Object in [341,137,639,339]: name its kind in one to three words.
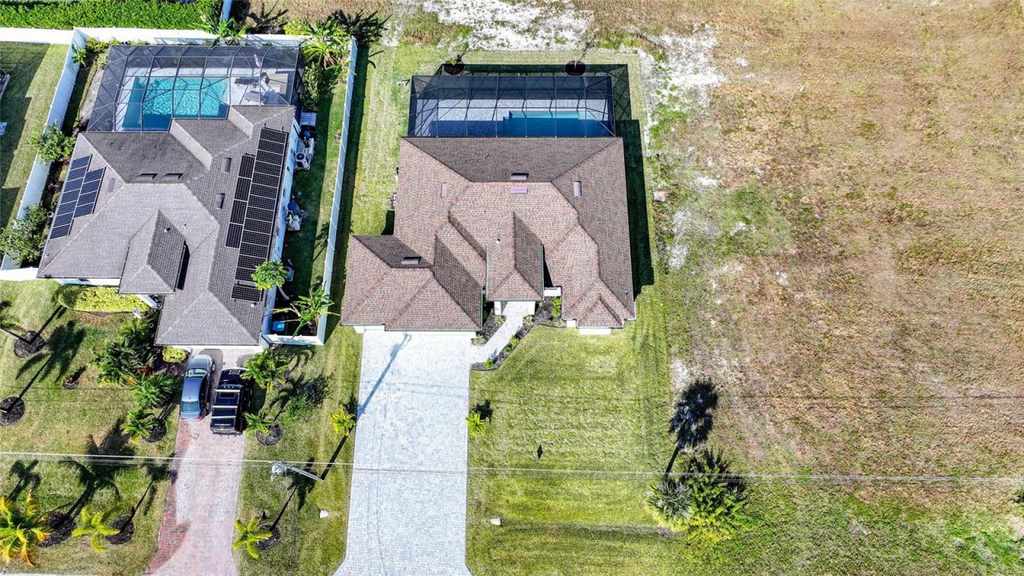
house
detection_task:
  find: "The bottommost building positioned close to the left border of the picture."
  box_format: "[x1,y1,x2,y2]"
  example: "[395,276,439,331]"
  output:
[35,105,299,354]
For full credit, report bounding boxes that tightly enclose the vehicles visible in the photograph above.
[178,353,216,422]
[211,367,257,439]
